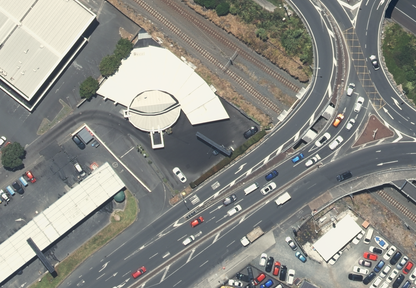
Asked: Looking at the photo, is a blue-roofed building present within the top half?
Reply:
No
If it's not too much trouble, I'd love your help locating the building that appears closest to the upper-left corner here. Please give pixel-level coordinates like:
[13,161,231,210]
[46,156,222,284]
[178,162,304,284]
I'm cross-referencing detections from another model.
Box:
[0,0,98,102]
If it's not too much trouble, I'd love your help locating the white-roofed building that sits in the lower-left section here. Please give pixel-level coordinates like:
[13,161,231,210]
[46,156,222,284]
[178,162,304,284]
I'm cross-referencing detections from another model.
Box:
[0,162,126,283]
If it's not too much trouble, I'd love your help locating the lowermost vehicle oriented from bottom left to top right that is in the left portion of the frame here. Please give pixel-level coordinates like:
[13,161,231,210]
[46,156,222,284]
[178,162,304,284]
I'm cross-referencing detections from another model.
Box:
[130,266,147,278]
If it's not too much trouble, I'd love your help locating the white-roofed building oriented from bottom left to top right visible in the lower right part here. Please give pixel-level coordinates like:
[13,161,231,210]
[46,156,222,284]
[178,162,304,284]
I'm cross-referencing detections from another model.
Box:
[314,214,362,262]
